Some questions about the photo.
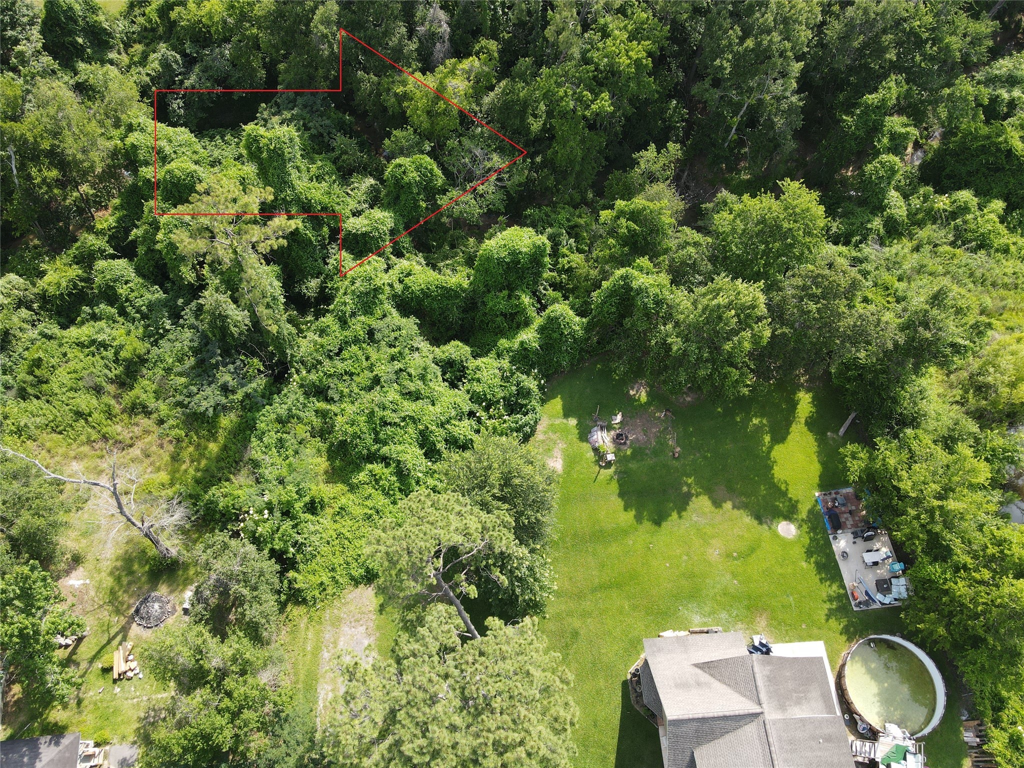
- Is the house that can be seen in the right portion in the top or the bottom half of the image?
bottom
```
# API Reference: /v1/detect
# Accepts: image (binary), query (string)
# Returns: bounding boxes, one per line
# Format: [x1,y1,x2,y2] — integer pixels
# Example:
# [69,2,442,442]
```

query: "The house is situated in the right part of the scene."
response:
[640,632,853,768]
